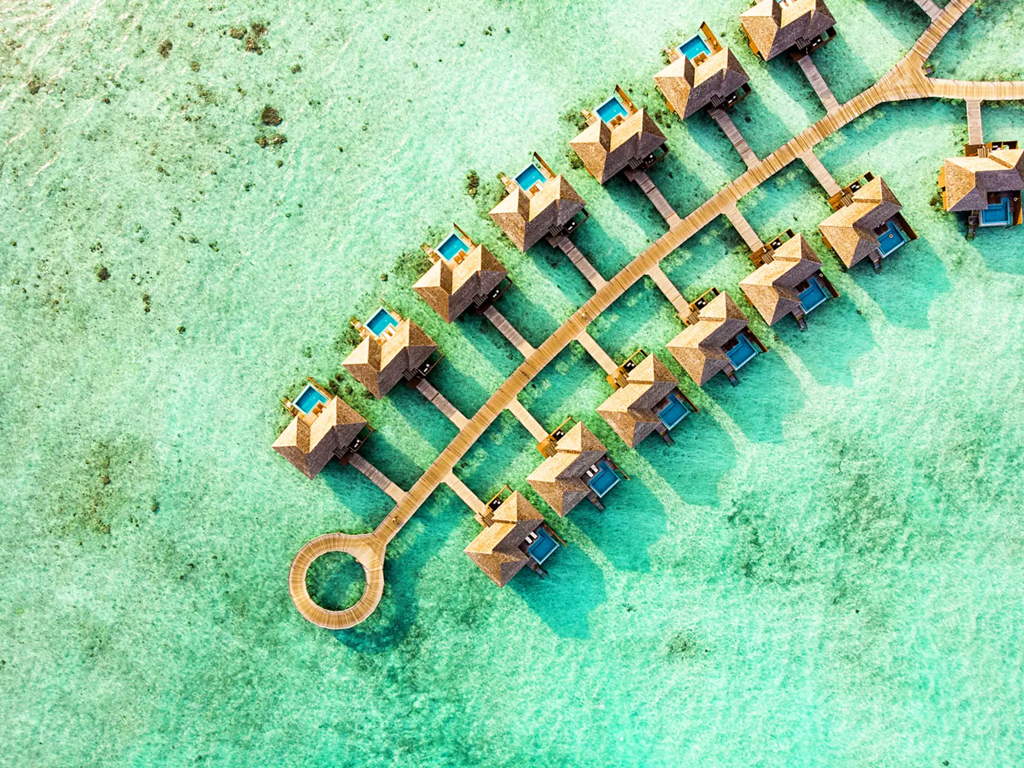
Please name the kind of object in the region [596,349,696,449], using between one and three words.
house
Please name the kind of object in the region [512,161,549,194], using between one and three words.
swimming pool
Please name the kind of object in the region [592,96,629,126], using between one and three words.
swimming pool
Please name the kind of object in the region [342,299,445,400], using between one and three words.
house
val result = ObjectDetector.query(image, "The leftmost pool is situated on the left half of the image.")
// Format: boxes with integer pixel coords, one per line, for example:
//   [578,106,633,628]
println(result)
[294,382,331,416]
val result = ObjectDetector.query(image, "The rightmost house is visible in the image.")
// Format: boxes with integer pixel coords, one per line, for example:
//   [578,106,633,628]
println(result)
[928,141,1024,245]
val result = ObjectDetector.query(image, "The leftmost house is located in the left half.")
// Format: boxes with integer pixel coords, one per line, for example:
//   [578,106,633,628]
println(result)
[272,378,378,480]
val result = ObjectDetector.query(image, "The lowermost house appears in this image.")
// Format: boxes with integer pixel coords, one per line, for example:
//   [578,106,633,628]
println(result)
[464,482,565,587]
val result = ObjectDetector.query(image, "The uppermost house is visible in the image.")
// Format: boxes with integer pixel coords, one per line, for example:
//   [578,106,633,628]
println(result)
[736,0,837,74]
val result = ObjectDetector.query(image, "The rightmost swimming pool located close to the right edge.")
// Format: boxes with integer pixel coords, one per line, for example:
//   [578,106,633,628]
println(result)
[971,201,1007,230]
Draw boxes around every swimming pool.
[656,393,689,429]
[971,201,1007,230]
[875,222,904,260]
[592,96,629,126]
[294,382,331,416]
[588,459,621,496]
[528,525,561,562]
[797,278,828,315]
[725,334,758,370]
[365,304,402,337]
[674,34,712,63]
[435,231,472,264]
[512,161,549,194]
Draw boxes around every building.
[596,349,696,449]
[809,171,914,278]
[569,88,669,189]
[736,0,837,74]
[653,26,751,128]
[734,228,836,333]
[272,378,378,480]
[412,225,513,325]
[665,287,765,387]
[489,154,589,254]
[928,141,1024,245]
[342,299,445,400]
[464,482,565,587]
[526,416,627,517]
